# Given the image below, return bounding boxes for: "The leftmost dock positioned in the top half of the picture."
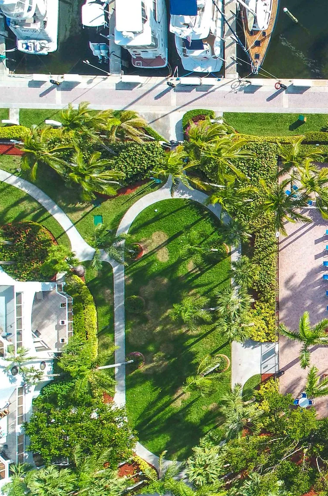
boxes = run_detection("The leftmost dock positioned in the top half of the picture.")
[0,29,14,74]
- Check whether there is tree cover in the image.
Yes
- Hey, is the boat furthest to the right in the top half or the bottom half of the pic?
top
